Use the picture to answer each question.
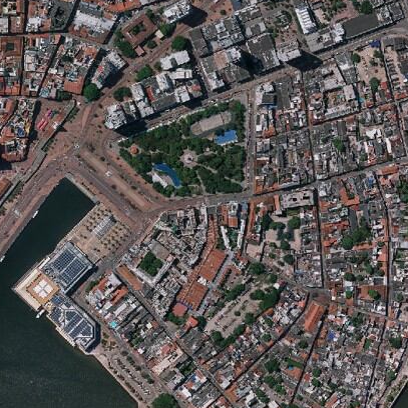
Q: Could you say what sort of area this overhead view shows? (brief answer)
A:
residential area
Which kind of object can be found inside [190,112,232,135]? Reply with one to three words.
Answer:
sports court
